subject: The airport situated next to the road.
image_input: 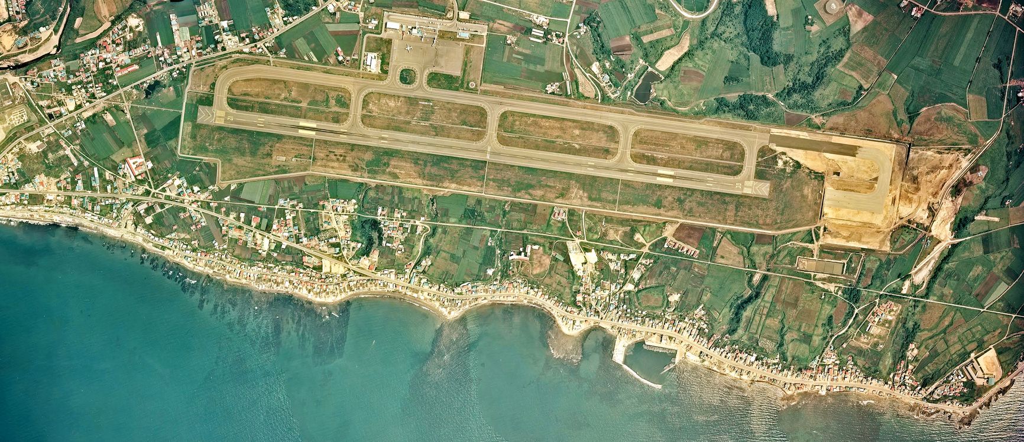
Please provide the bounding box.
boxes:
[180,31,907,253]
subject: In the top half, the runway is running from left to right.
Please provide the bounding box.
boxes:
[197,105,771,199]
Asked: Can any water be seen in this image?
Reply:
Yes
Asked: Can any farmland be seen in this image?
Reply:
Yes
